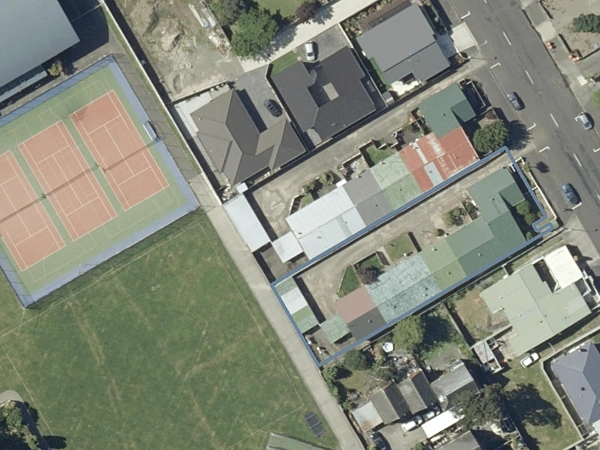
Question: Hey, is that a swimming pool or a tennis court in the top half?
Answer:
tennis court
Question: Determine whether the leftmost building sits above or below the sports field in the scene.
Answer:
above it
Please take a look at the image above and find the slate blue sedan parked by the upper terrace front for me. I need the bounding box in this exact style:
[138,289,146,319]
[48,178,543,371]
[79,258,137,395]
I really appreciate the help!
[507,90,524,111]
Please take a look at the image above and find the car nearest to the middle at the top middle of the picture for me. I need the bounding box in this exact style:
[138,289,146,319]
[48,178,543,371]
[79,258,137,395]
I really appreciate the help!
[265,97,281,118]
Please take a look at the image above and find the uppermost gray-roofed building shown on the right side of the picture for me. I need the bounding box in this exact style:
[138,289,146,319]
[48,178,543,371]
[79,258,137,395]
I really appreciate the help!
[357,4,450,85]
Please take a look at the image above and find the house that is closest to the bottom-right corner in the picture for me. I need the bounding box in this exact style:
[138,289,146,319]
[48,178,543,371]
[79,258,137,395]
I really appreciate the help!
[551,339,600,431]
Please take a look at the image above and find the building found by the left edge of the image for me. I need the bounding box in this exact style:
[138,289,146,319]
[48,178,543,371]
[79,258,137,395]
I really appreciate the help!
[0,0,81,107]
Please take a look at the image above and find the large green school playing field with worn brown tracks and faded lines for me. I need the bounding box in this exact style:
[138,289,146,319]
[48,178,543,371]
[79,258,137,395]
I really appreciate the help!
[0,208,344,450]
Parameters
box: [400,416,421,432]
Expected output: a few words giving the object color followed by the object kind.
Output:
white vehicle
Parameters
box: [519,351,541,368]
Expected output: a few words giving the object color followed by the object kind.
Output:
white vehicle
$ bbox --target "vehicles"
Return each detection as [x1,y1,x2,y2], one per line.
[305,41,315,61]
[265,97,281,118]
[577,111,592,130]
[519,351,541,368]
[400,416,421,432]
[562,183,579,204]
[421,405,441,421]
[507,90,524,111]
[371,429,387,450]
